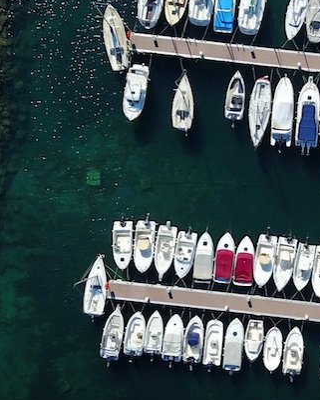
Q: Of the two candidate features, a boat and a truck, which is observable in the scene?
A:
boat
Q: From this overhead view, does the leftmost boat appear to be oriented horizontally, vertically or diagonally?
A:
vertically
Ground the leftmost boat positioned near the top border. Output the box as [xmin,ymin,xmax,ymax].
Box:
[101,3,128,71]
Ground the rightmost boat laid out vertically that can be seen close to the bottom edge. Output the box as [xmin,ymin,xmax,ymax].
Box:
[282,319,307,383]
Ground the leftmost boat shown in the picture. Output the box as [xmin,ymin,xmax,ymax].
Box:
[81,254,109,324]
